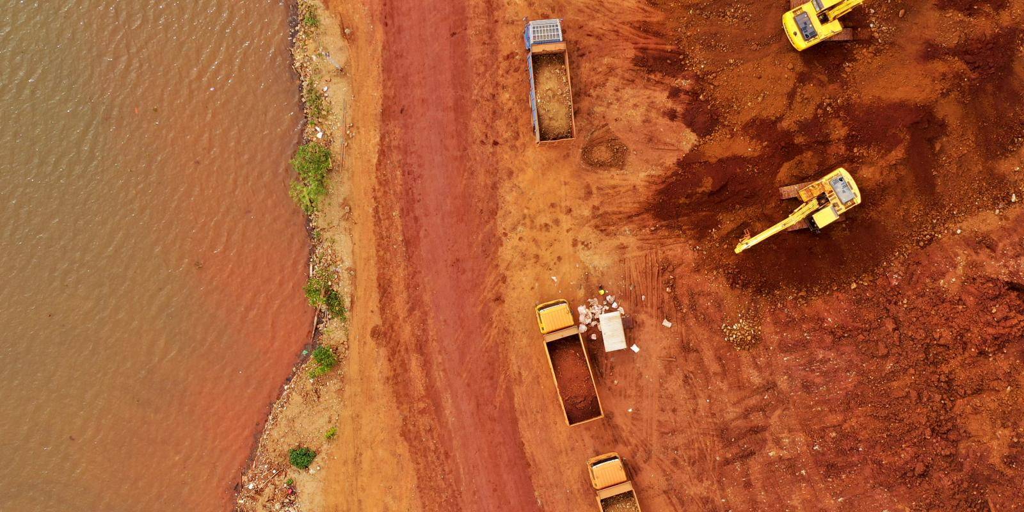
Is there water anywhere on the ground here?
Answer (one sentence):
Yes, water can be seen from above here.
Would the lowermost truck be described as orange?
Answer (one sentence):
Yes, the lowermost truck appears orange.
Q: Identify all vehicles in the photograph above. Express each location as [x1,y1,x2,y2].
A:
[730,168,860,252]
[525,17,578,147]
[533,299,603,427]
[780,0,879,52]
[584,447,641,512]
